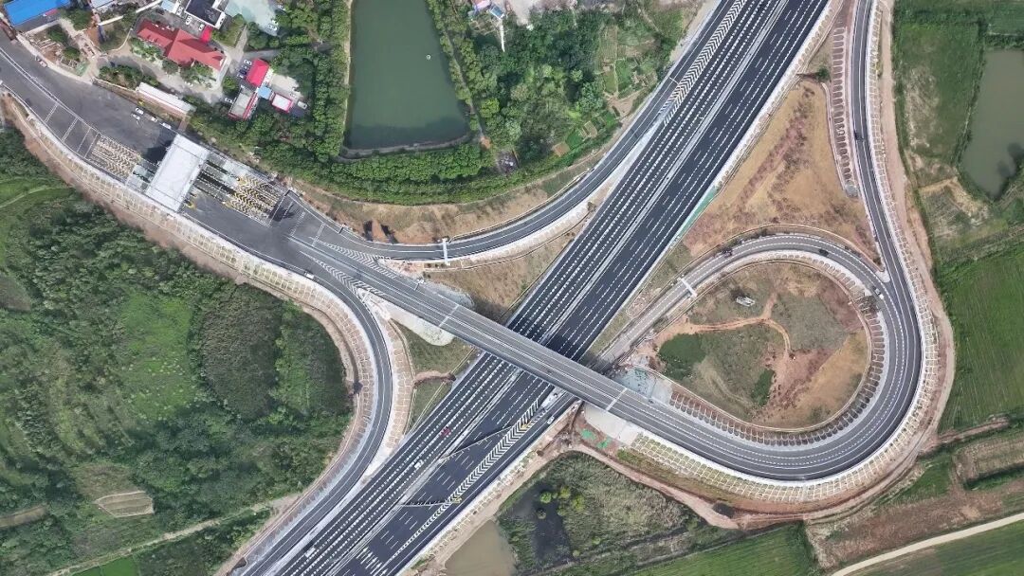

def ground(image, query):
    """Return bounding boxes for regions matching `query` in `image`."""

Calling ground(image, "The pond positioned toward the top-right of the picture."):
[959,49,1024,198]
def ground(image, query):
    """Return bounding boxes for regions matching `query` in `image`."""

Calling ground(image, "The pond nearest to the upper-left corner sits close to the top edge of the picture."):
[345,0,468,151]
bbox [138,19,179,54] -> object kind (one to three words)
building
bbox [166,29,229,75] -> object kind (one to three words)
building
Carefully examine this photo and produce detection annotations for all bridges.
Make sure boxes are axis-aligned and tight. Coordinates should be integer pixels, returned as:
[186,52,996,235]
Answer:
[442,303,623,413]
